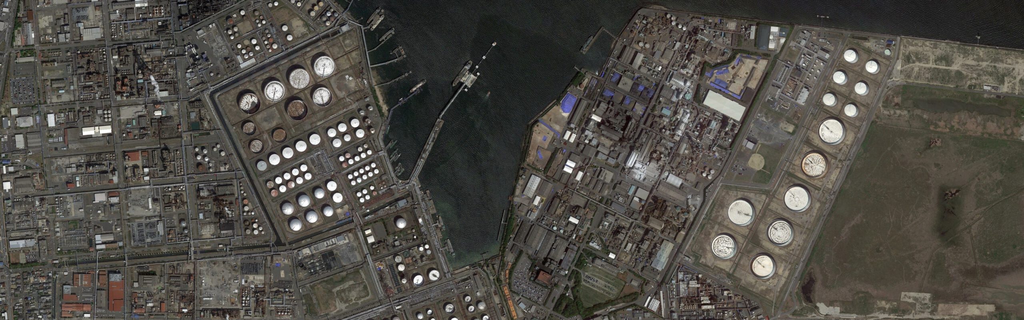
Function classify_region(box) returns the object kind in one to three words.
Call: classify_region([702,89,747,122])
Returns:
building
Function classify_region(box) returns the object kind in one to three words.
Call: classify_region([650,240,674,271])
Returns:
building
